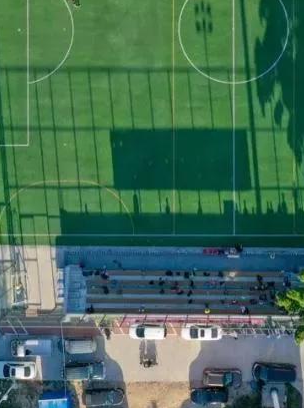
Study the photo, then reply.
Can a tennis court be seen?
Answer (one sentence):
No, there appears to be no tennis court in this shot.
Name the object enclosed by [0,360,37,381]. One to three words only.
car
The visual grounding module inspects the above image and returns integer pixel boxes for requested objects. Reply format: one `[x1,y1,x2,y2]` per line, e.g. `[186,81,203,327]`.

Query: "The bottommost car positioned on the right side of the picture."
[190,386,229,406]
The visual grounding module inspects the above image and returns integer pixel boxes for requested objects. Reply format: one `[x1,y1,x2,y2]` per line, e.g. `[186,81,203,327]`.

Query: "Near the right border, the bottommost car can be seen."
[252,362,297,385]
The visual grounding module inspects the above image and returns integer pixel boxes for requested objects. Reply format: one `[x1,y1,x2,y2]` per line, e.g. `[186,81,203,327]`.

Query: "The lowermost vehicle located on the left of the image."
[86,387,124,408]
